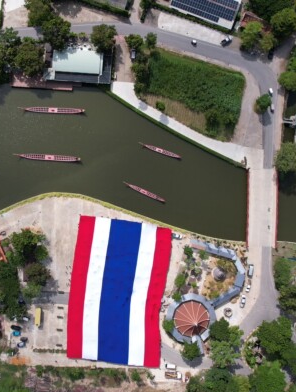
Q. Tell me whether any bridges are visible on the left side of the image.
No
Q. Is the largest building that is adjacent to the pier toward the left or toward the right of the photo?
left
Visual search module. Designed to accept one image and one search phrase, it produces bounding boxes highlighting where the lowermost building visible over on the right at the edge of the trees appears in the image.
[164,290,216,353]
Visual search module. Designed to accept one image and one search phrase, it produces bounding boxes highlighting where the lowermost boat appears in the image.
[125,182,167,202]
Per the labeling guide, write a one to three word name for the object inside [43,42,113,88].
building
